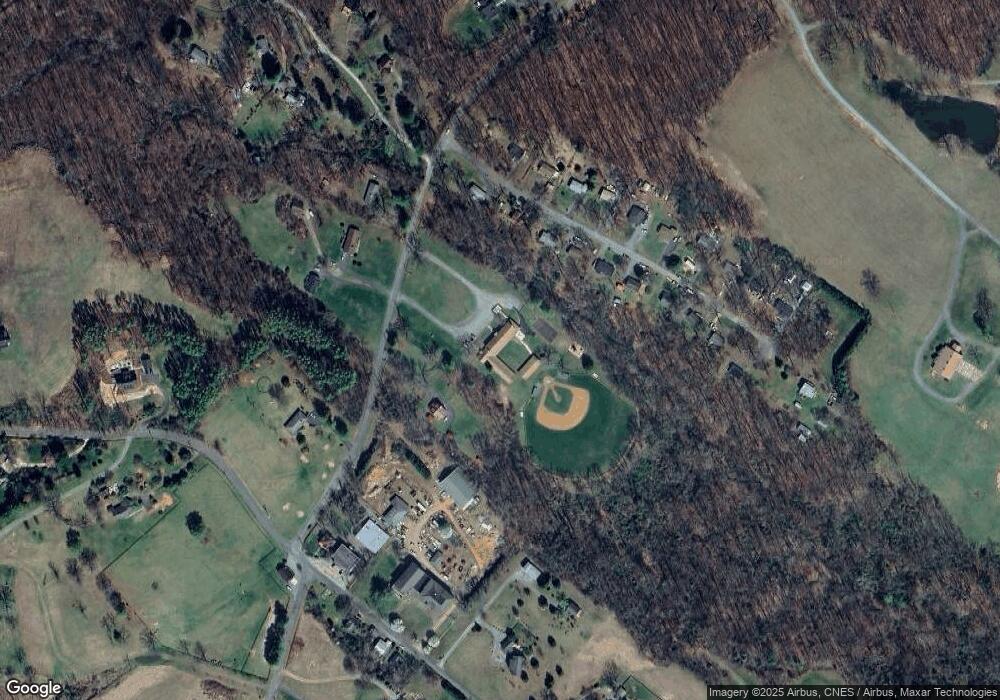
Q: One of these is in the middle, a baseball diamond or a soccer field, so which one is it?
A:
baseball diamond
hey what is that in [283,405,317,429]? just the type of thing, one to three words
house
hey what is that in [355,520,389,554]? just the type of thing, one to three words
building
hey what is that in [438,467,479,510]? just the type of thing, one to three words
barn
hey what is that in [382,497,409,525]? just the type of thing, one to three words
building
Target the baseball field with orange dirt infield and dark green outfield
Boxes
[523,373,637,475]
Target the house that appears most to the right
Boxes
[932,342,963,381]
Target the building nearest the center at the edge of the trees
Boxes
[476,317,541,383]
